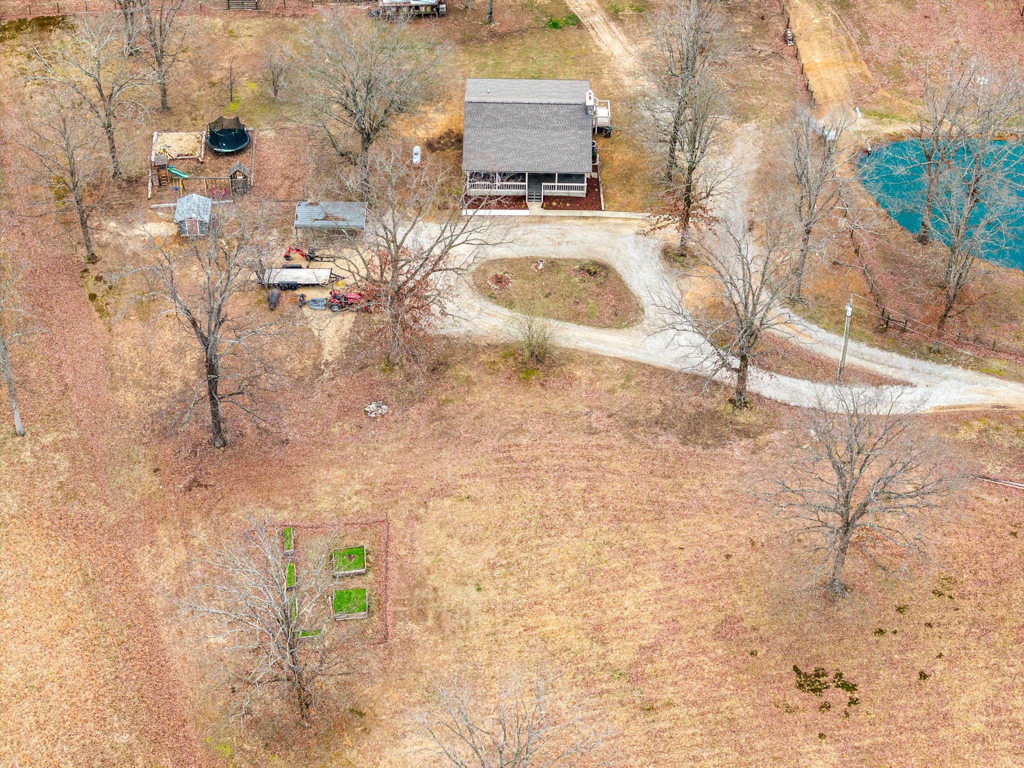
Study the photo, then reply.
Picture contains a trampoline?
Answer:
Yes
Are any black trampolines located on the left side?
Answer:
Yes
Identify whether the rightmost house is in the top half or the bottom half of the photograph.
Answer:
top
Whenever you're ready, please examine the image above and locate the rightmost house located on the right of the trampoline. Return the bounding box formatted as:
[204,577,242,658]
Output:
[462,79,608,203]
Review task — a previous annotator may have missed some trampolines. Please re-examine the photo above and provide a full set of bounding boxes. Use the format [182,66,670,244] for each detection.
[206,115,249,160]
